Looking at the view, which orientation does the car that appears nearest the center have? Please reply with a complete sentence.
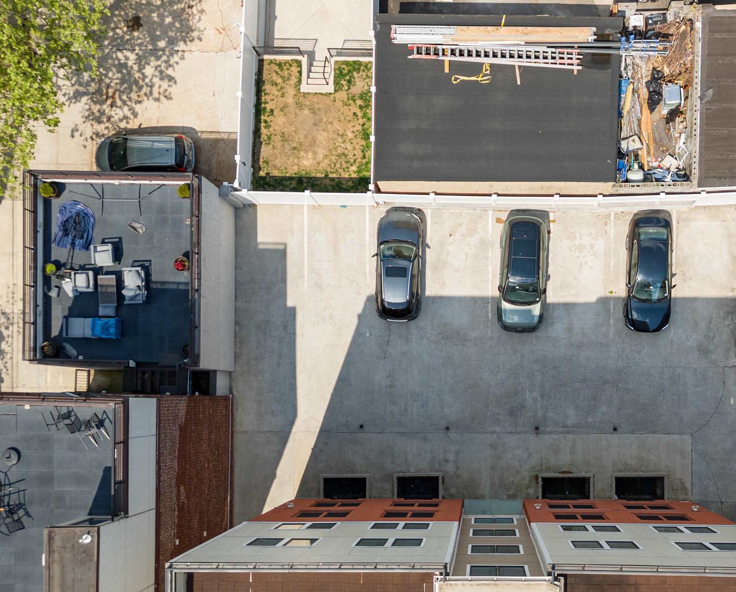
The car that appears nearest the center has been laid out up and down relative to the frame.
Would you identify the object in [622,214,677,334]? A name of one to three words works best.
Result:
car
